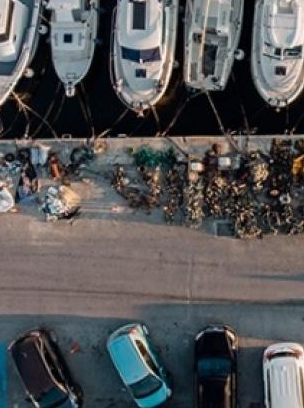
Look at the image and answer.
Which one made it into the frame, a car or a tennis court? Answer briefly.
car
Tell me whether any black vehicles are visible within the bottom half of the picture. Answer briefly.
Yes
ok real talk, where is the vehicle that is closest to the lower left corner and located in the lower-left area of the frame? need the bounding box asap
[12,321,82,408]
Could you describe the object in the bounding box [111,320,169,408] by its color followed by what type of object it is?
blue car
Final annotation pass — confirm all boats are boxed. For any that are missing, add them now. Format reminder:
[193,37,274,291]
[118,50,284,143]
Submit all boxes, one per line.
[177,0,245,93]
[0,0,50,103]
[110,0,179,115]
[49,0,103,96]
[252,0,304,112]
